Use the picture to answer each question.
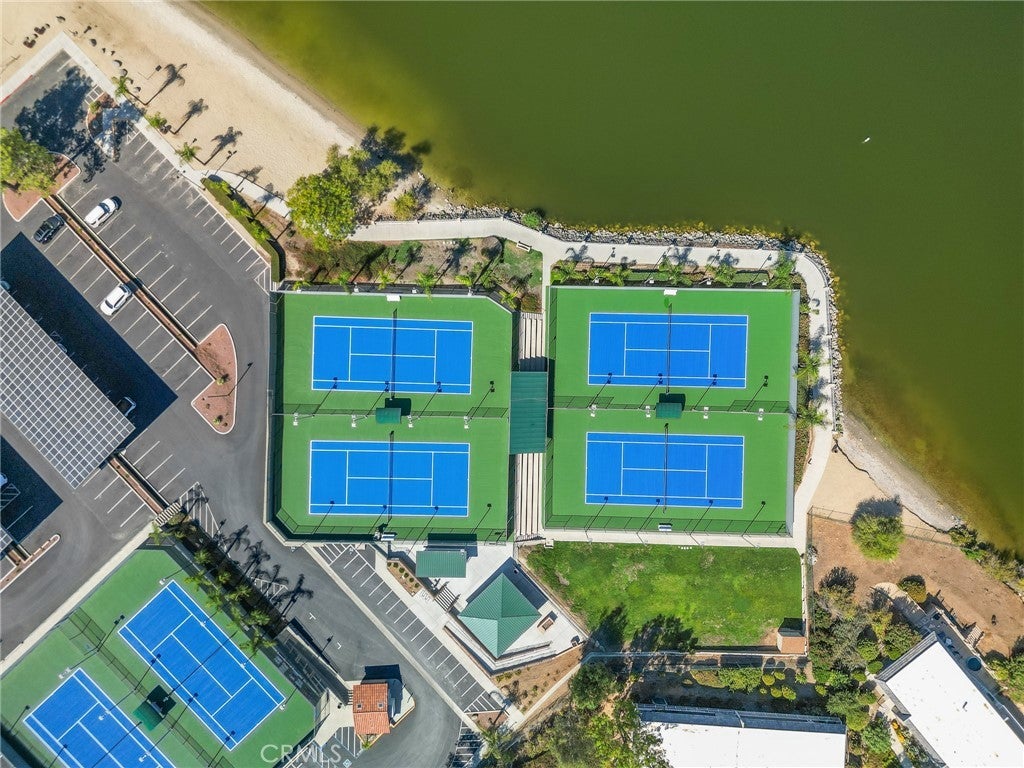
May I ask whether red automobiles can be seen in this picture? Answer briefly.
No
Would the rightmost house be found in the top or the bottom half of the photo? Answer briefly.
bottom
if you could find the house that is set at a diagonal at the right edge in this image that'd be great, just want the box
[873,631,1024,768]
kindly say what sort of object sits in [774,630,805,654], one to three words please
shed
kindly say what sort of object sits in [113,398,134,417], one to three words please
vehicle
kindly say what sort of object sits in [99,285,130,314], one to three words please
car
